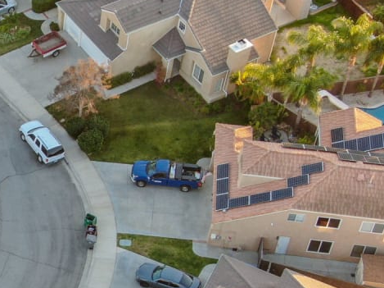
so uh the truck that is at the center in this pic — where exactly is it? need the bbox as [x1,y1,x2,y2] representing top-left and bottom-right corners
[130,158,206,189]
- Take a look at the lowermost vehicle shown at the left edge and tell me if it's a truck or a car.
car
